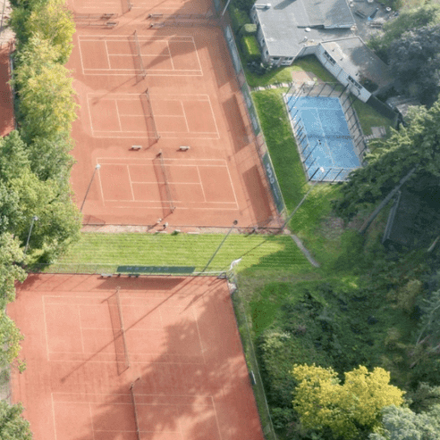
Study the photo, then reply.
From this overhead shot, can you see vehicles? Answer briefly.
No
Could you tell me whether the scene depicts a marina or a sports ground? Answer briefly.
sports ground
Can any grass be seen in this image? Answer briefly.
Yes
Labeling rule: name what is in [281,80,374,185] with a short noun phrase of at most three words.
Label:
sports court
